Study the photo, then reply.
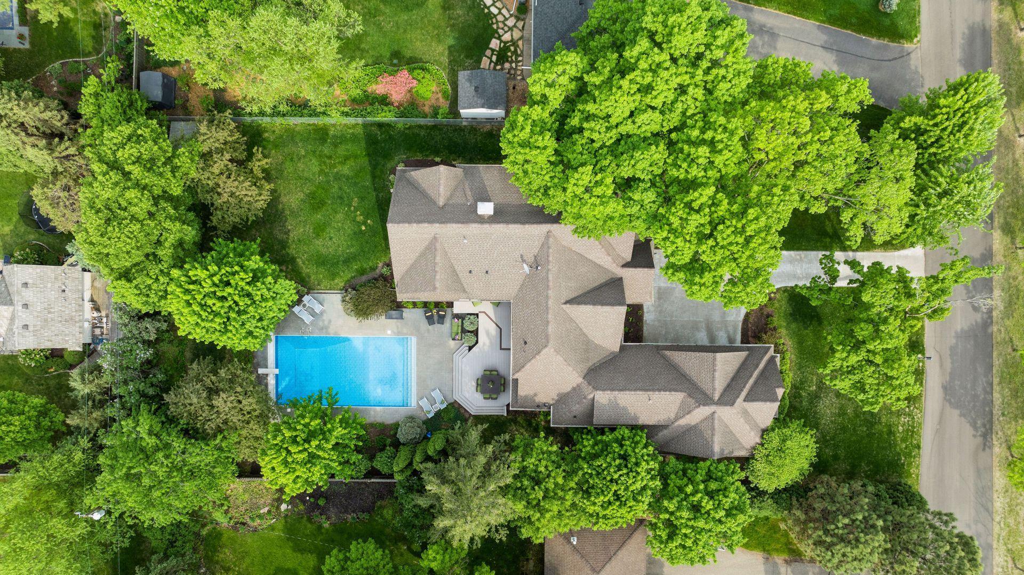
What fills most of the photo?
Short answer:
trees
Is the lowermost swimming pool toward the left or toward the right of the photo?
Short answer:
left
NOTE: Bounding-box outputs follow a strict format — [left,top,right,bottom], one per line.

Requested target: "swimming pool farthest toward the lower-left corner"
[268,334,416,409]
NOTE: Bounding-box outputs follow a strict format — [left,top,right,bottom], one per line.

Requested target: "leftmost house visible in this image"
[0,265,98,351]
